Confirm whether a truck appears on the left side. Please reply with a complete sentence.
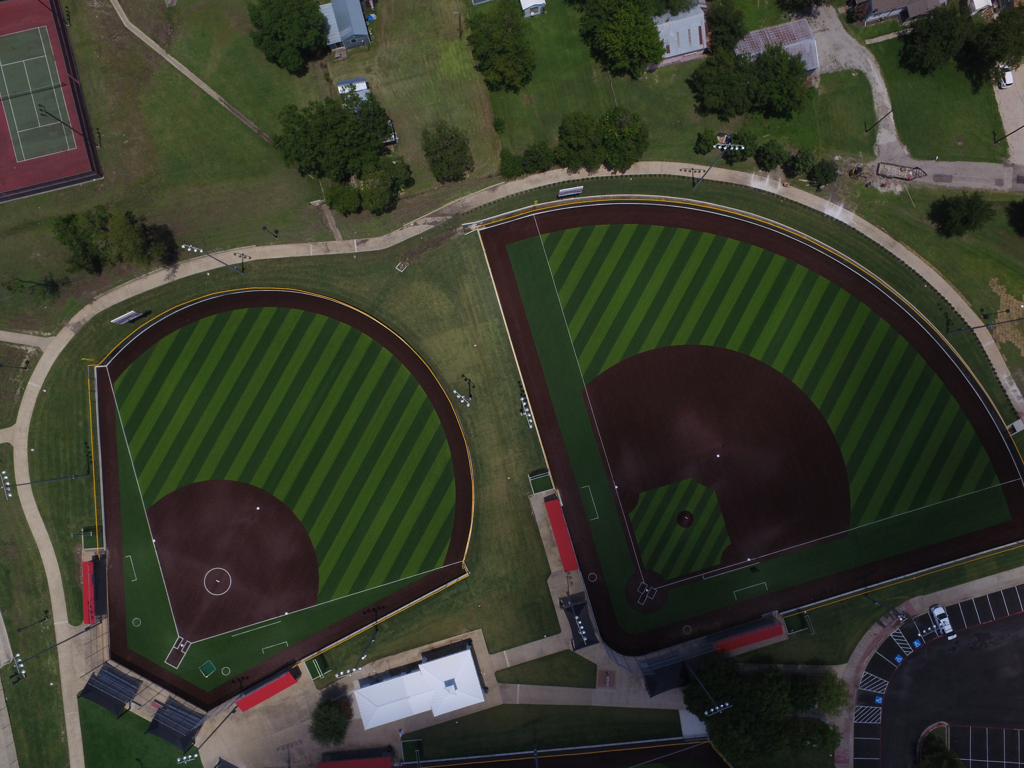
No, looking on the left side, there is no truck.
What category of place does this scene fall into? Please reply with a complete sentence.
The area seen from above is a sports ground.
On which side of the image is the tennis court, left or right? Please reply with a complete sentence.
The tennis court is on the left side of the image.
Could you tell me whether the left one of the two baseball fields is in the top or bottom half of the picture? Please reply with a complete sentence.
It is in the bottom half that the left one of the two baseball fields appears.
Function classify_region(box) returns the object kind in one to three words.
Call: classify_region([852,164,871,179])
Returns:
work vehicle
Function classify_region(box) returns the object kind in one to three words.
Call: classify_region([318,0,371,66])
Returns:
house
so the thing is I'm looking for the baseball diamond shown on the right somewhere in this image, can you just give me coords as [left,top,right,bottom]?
[480,205,1024,655]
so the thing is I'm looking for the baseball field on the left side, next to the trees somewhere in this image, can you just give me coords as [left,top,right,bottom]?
[96,291,473,712]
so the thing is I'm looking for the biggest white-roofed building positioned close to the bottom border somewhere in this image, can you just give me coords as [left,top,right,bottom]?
[354,649,484,730]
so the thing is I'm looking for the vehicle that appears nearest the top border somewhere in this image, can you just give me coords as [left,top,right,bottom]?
[998,64,1018,91]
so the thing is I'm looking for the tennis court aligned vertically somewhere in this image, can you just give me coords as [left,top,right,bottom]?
[0,0,92,194]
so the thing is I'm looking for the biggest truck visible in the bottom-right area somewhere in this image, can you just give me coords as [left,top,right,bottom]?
[930,603,955,638]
